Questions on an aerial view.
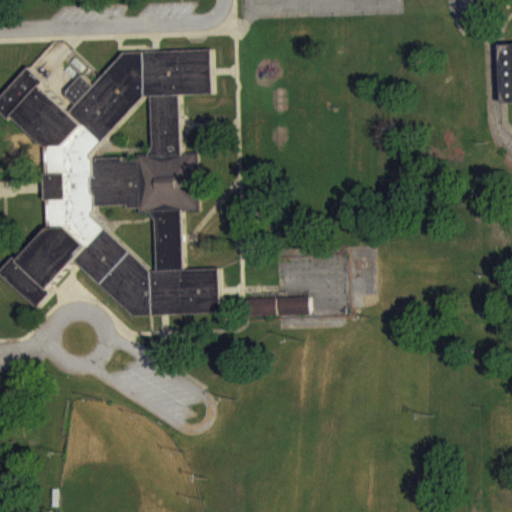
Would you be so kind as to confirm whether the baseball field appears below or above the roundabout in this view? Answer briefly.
below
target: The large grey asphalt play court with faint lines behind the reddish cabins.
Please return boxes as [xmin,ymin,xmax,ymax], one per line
[280,256,348,315]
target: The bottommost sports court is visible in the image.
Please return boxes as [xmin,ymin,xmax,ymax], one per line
[281,316,346,330]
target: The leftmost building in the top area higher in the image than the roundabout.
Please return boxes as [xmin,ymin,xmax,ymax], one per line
[0,50,222,316]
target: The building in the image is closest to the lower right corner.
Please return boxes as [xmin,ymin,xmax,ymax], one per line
[278,296,310,316]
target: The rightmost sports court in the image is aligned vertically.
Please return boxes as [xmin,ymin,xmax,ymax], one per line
[352,248,378,308]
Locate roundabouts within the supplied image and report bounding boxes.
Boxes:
[0,302,141,384]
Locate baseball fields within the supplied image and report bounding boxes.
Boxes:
[58,401,199,512]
